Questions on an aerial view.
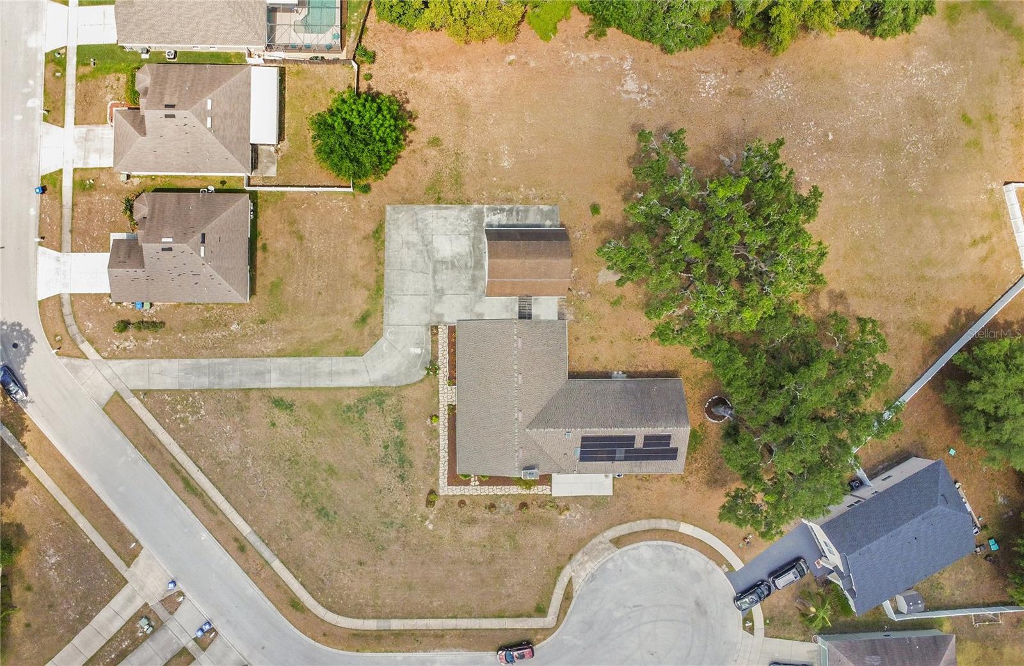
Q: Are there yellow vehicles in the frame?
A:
No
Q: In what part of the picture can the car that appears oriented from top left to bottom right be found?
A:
left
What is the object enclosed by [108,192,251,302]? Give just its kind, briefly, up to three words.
house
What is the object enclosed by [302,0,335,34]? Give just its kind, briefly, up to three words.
swimming pool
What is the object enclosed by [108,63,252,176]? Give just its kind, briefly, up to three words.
house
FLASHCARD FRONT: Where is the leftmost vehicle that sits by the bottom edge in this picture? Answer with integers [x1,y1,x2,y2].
[497,640,535,665]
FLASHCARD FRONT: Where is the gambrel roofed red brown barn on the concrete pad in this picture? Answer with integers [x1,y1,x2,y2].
[484,227,571,297]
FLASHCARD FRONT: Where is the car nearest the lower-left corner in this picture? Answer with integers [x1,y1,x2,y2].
[0,363,30,405]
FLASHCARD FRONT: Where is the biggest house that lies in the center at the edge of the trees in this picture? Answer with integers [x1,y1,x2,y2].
[456,318,690,480]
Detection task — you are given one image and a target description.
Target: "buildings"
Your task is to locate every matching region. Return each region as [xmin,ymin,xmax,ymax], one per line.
[114,0,267,53]
[807,458,976,617]
[108,63,252,176]
[817,631,958,666]
[456,318,690,480]
[484,227,571,297]
[108,192,251,302]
